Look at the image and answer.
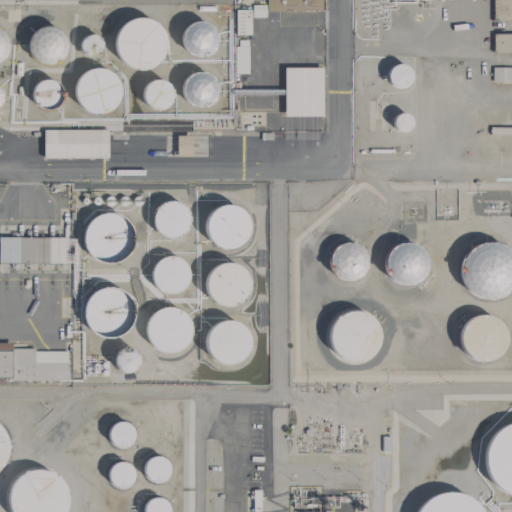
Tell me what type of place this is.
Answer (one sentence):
The picture captures an industrial area.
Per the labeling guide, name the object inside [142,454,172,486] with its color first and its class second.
white storage tank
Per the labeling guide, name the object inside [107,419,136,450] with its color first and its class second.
white storage tank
